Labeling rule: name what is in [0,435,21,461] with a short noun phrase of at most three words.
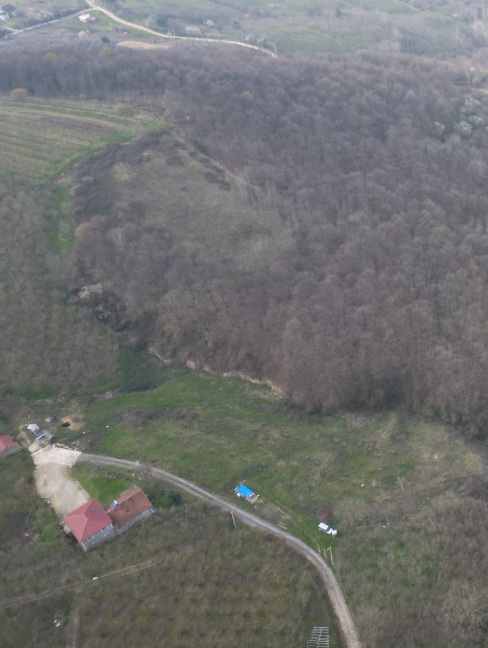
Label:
shed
